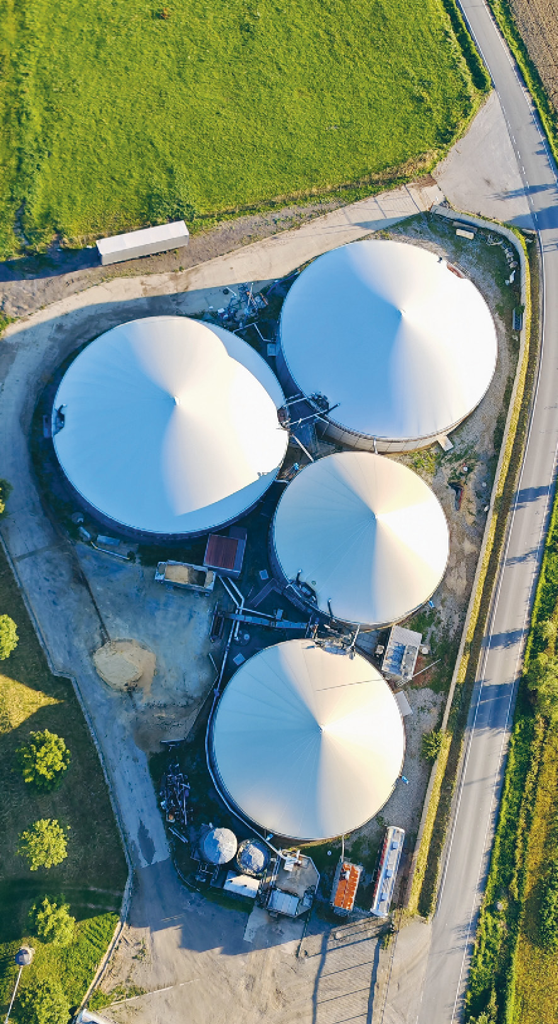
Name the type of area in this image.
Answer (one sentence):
The picture captures an industrial area.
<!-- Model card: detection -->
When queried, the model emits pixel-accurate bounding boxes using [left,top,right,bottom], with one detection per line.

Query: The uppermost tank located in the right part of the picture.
[265,238,499,454]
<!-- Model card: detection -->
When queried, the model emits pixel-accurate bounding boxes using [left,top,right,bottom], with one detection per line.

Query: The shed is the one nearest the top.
[290,421,313,451]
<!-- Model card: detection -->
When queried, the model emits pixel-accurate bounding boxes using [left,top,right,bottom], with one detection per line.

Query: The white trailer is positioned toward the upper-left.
[97,221,188,264]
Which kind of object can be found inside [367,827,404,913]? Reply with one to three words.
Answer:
trailer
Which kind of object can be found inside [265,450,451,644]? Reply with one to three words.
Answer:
storage tank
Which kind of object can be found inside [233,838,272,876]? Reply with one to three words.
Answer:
silo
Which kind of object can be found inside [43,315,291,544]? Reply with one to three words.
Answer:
storage tank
